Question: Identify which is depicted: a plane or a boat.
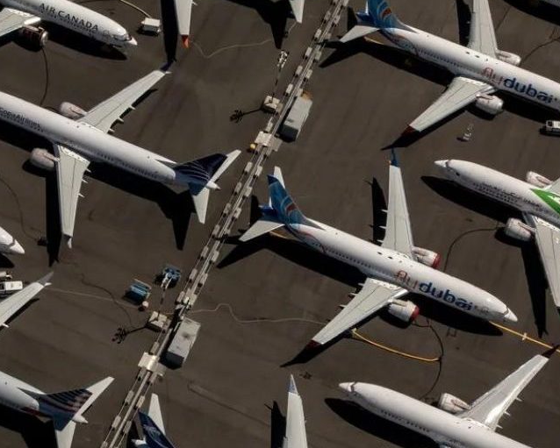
plane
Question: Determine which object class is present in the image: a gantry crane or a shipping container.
shipping container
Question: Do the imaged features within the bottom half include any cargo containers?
Yes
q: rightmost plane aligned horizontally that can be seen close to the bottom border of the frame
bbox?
[337,344,559,448]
